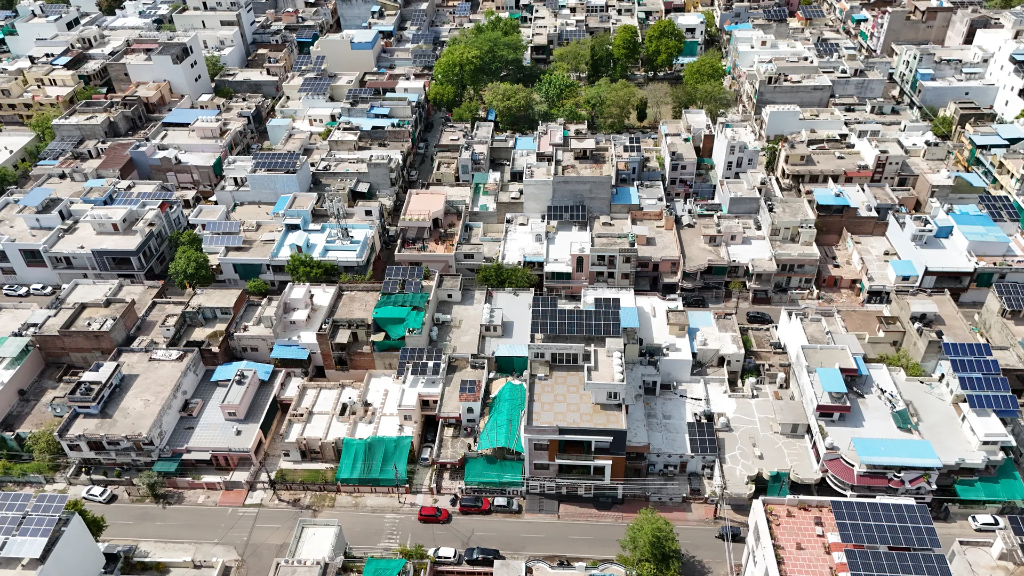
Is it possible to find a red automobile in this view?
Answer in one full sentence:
Yes, there's a red automobile here.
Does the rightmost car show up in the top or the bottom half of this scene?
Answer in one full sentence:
You can find the rightmost car in the bottom half.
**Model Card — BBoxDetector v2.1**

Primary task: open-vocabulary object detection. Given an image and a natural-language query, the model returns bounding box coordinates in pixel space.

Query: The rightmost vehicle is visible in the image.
[966,513,1009,535]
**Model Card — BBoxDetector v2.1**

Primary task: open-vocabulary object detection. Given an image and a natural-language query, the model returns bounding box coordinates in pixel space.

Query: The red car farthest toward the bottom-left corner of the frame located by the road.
[416,506,450,525]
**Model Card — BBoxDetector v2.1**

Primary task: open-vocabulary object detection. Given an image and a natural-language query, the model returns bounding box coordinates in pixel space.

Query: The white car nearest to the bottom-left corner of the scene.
[79,485,115,507]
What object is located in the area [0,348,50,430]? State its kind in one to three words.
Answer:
house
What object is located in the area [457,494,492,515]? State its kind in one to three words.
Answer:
car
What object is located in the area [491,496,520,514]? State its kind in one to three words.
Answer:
car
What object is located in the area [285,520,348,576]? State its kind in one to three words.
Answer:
house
